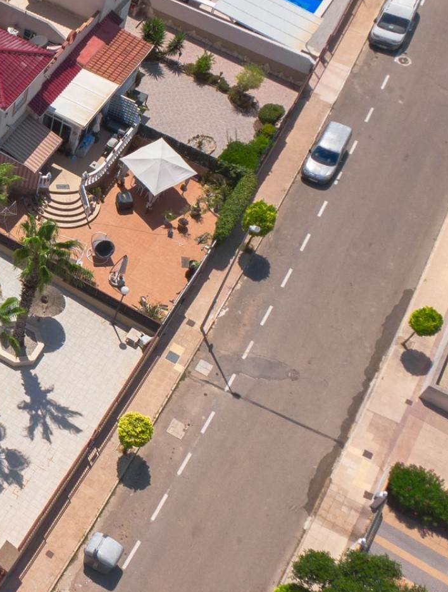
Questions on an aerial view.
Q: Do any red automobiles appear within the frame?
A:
No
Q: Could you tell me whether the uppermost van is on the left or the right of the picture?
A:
right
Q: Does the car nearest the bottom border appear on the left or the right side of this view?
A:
right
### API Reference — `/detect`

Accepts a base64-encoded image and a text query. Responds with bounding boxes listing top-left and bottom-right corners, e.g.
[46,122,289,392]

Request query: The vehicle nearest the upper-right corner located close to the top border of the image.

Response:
[370,0,428,52]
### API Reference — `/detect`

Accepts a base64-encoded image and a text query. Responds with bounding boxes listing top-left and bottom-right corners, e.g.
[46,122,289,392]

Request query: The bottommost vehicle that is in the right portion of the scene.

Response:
[300,117,361,189]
